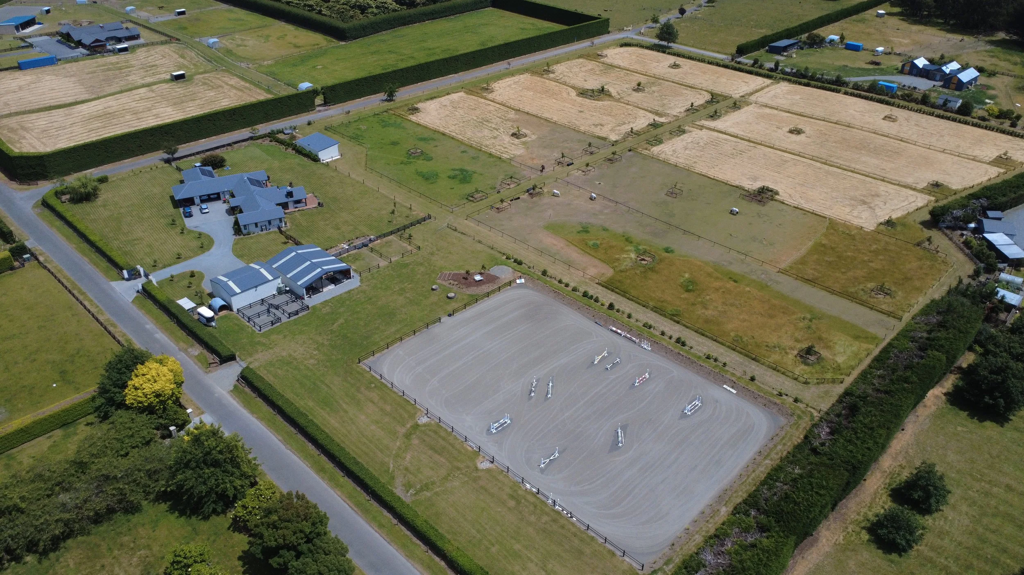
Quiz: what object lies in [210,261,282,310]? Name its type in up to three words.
shed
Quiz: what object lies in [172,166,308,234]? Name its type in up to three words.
house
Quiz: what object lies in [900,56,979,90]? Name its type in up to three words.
house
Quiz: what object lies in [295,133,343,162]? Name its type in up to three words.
shed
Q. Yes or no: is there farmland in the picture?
Yes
